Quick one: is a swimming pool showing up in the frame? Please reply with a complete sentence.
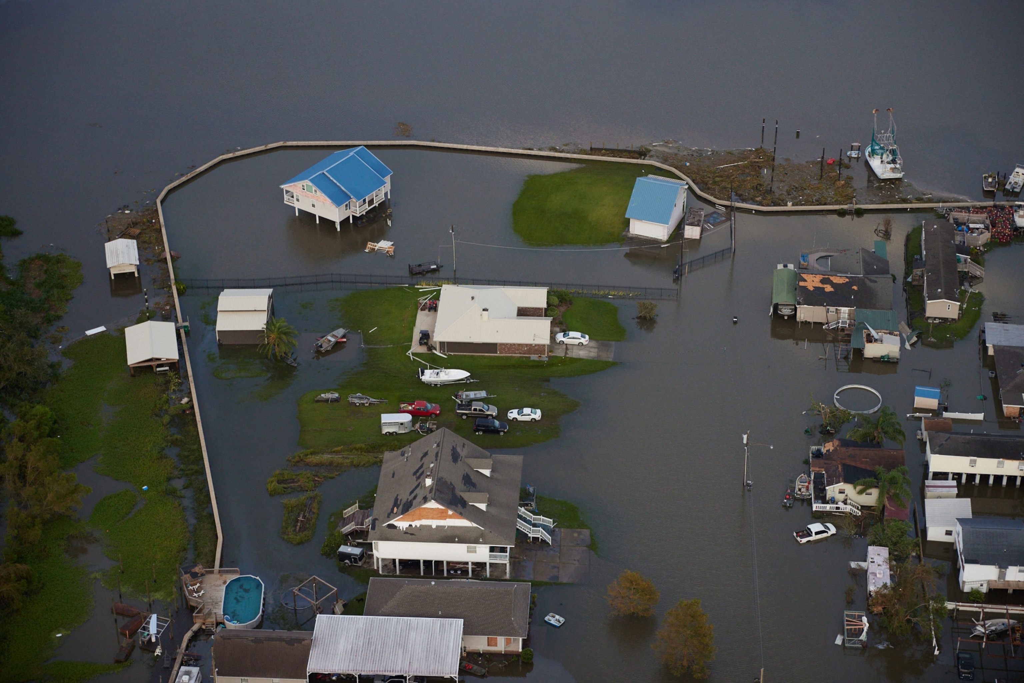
Yes, the frame does contain a swimming pool.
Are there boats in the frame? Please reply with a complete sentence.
Yes, a boat is visible in the scene.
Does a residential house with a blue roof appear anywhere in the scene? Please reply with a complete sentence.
Yes, this view includes a residential house with a blue roof.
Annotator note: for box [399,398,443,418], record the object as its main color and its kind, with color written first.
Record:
red vehicle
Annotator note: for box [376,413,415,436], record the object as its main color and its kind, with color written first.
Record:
white trailer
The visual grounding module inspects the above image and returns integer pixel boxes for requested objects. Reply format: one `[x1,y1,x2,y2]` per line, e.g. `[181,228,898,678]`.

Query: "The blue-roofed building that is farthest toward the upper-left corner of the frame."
[279,145,395,232]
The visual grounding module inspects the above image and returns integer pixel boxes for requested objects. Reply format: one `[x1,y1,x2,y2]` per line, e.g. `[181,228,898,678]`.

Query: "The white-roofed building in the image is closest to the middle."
[411,285,556,362]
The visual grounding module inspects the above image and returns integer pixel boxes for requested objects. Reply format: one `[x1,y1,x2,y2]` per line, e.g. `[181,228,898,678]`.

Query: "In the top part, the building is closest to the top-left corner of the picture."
[105,238,139,280]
